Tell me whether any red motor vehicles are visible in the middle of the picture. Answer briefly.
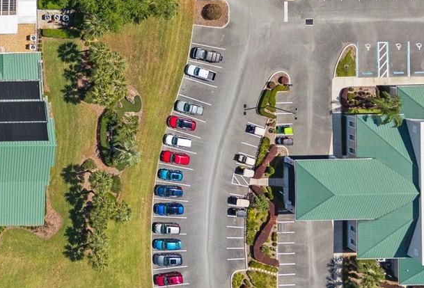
Yes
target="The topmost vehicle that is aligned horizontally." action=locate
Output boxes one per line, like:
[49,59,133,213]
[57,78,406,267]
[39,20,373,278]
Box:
[190,47,221,63]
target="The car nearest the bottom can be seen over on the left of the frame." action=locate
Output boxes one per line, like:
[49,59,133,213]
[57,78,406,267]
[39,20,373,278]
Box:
[153,271,184,287]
